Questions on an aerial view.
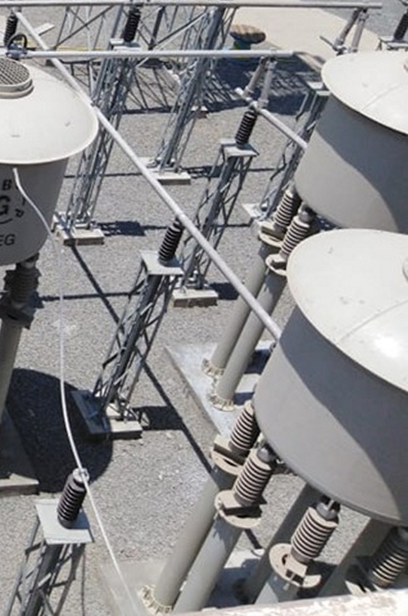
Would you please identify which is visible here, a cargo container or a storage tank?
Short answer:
storage tank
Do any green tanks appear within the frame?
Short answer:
No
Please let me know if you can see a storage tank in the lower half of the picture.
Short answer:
Yes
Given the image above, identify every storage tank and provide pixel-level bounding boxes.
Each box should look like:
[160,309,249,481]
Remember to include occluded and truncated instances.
[0,159,70,262]
[297,90,408,234]
[258,309,408,518]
